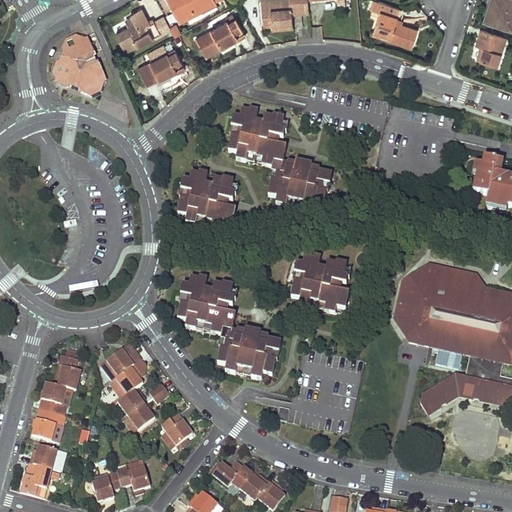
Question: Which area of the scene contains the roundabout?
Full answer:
The roundabout sits in the left section of the image.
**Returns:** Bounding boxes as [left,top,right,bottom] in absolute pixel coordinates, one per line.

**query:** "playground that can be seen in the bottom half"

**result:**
[450,406,512,466]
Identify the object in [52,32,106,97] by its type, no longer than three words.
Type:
building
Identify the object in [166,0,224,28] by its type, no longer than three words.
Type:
house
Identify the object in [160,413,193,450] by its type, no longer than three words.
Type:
house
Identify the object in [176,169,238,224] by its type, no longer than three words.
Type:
building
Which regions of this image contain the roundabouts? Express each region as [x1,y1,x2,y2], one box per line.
[0,100,169,340]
